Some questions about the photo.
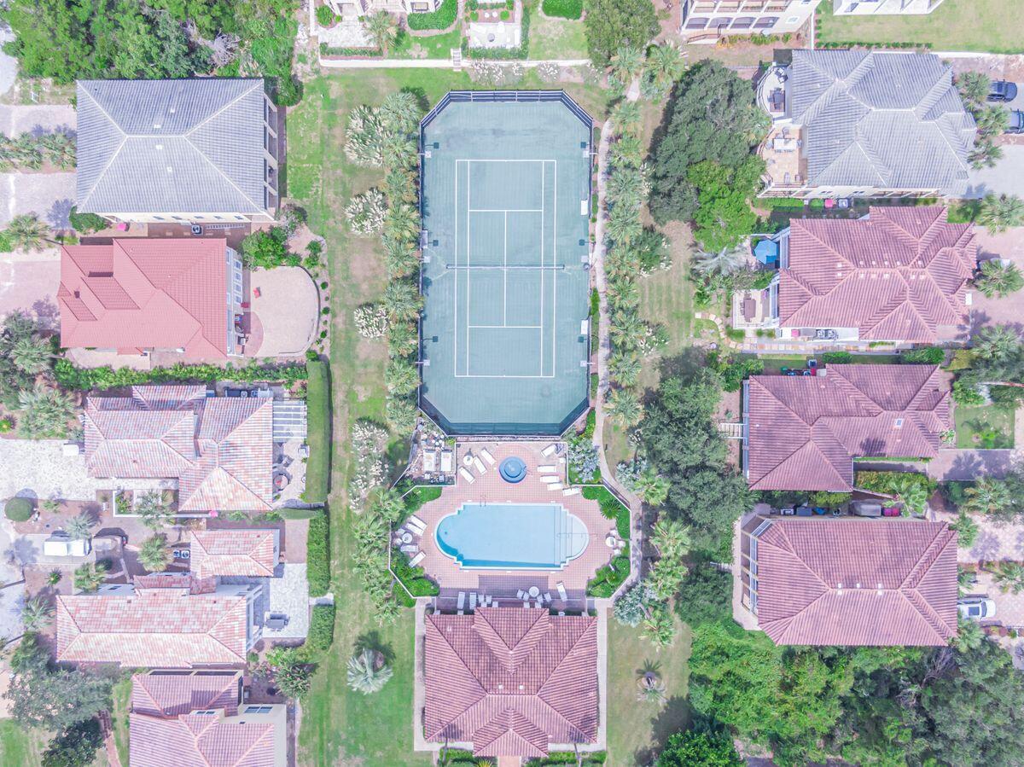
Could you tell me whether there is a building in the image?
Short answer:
Yes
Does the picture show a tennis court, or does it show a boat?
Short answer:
tennis court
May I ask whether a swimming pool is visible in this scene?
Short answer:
Yes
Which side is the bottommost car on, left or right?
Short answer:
right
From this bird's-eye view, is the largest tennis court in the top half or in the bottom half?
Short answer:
top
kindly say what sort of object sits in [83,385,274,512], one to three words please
house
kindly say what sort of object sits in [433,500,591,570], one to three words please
swimming pool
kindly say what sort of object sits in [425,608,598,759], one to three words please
building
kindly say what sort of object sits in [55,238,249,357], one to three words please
house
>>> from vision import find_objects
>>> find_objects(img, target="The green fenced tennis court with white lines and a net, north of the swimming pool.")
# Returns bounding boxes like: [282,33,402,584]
[424,102,588,432]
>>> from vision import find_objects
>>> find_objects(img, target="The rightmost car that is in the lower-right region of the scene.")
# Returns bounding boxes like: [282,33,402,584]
[957,598,999,621]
